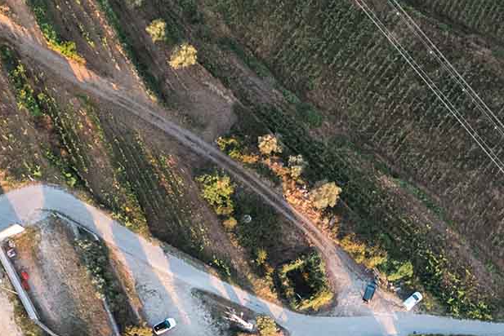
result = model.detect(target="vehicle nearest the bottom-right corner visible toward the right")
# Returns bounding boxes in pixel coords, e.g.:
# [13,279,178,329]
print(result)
[403,290,423,310]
